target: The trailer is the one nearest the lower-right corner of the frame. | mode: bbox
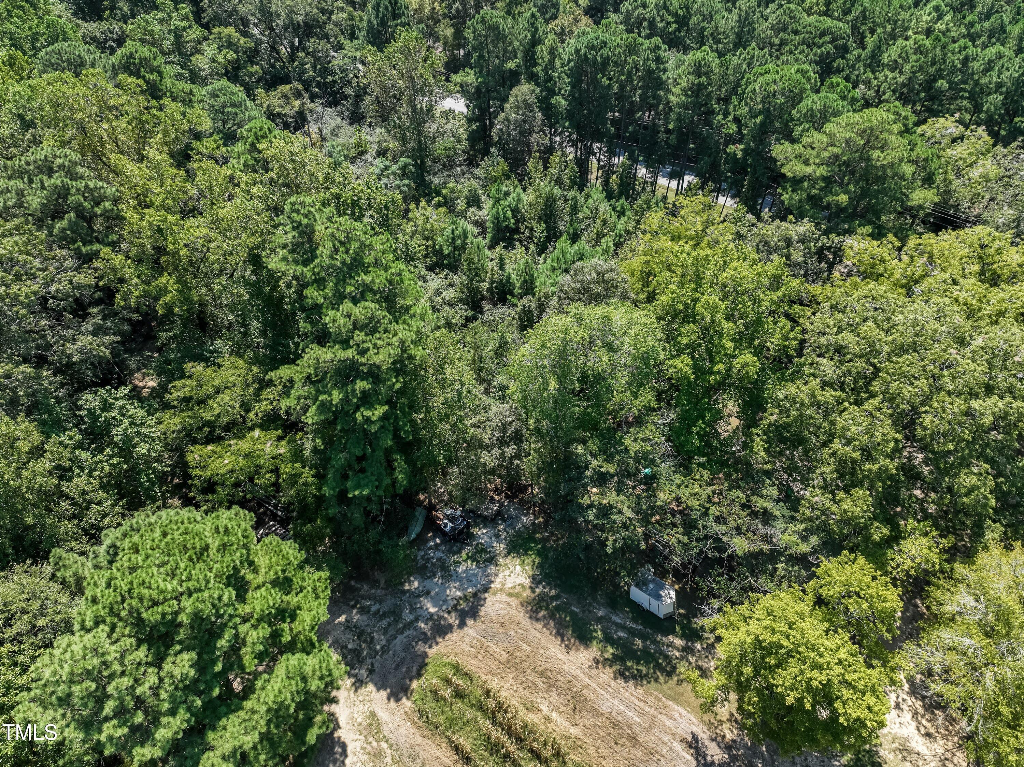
[630,569,686,621]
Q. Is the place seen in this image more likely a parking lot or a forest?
forest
